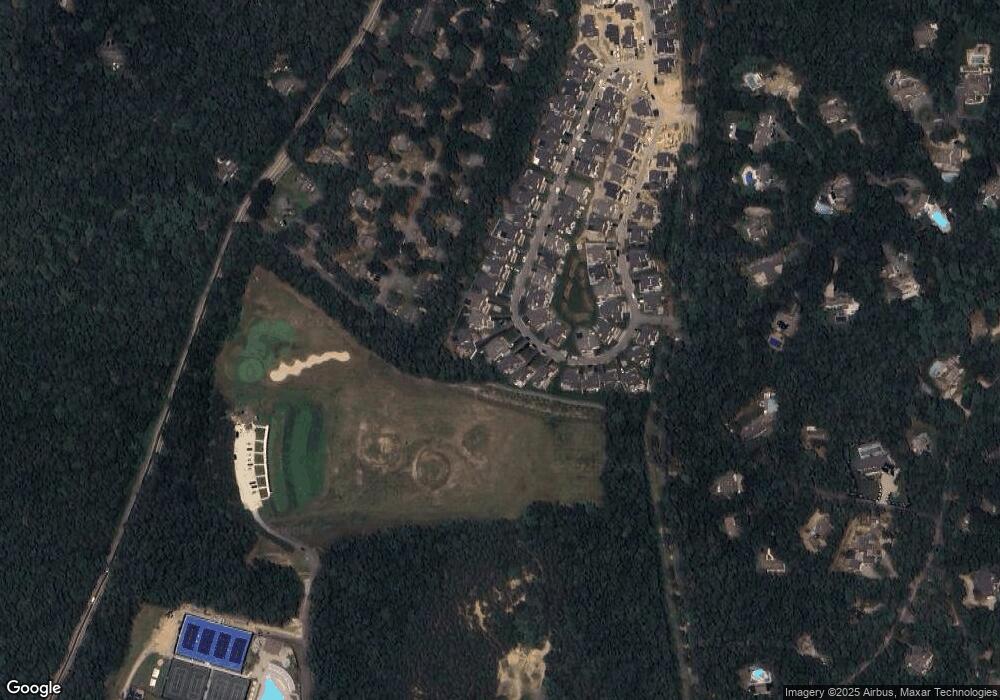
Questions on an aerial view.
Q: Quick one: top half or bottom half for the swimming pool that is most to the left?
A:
bottom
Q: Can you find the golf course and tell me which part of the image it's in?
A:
center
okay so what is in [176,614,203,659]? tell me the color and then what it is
blue tennis court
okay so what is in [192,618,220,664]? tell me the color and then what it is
blue tennis court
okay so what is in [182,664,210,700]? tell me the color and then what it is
gray tennis court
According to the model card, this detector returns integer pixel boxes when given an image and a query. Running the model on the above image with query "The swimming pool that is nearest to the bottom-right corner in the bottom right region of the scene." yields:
[751,666,771,683]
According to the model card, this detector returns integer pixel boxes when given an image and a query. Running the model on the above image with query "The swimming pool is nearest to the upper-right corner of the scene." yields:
[967,49,988,66]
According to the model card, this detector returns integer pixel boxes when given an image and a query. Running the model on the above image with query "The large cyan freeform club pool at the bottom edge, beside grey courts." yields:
[248,641,298,700]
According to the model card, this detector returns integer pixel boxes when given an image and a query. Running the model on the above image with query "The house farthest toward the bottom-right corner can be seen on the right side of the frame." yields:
[899,641,939,674]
